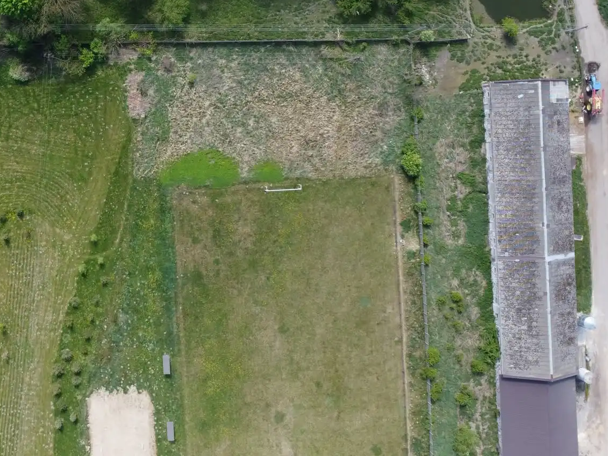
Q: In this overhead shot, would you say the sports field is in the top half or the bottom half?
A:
bottom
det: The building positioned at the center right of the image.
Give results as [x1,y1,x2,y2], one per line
[483,79,579,382]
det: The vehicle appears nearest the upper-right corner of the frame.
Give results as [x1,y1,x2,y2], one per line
[586,73,603,92]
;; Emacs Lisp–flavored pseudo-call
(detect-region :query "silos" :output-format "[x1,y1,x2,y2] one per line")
[577,318,596,333]
[578,371,595,384]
